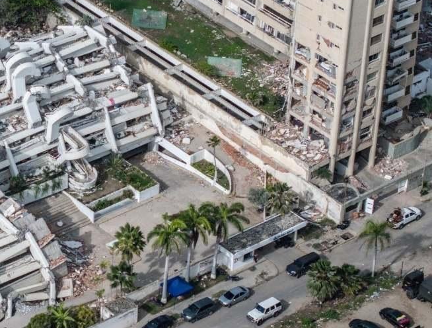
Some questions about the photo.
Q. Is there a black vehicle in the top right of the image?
No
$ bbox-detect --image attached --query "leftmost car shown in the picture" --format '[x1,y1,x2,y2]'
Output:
[139,309,178,328]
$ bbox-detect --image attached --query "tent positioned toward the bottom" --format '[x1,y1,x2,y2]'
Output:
[157,274,196,311]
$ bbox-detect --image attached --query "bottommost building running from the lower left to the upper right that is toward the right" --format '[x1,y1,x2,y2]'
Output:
[218,210,310,275]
